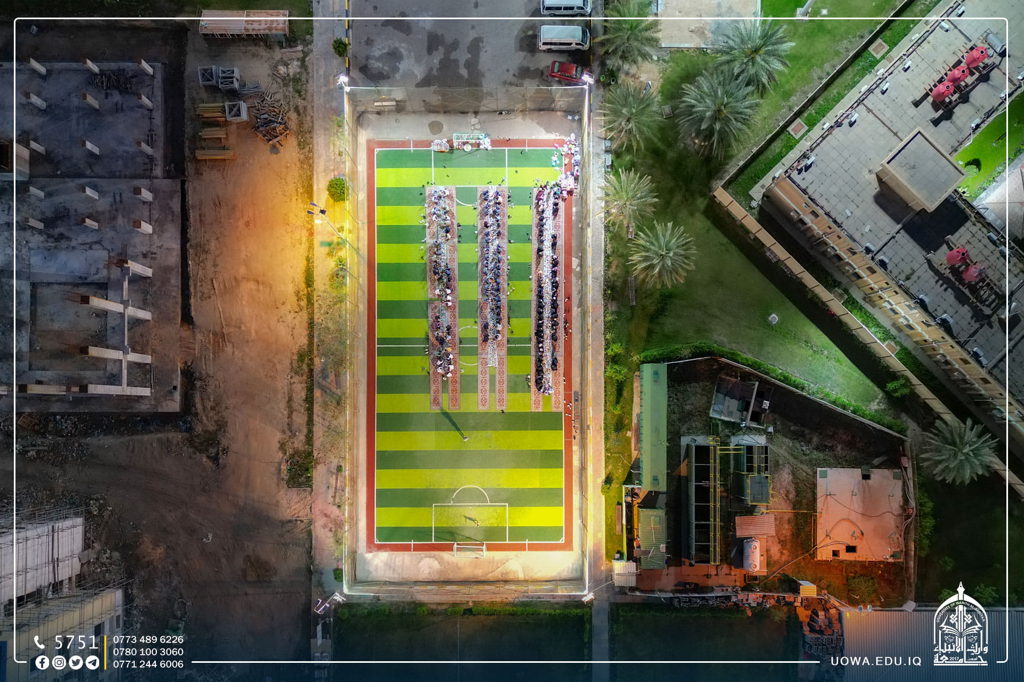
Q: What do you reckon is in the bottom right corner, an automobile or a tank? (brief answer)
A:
tank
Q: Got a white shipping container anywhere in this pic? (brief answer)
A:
No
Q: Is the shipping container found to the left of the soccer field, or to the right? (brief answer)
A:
to its right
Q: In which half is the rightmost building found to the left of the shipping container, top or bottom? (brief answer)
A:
bottom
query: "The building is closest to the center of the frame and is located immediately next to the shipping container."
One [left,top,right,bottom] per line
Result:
[640,364,667,491]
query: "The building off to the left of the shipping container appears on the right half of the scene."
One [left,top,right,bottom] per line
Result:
[609,556,636,586]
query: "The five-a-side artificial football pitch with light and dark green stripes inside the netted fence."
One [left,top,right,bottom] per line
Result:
[366,139,573,552]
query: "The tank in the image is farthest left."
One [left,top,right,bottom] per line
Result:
[687,434,721,567]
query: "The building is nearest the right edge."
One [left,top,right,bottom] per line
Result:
[970,161,1024,255]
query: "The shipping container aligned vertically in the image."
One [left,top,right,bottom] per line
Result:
[636,505,665,569]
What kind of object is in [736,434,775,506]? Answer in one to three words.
storage tank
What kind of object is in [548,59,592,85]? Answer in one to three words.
car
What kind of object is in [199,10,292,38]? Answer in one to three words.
shed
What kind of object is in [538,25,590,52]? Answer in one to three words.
vehicle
